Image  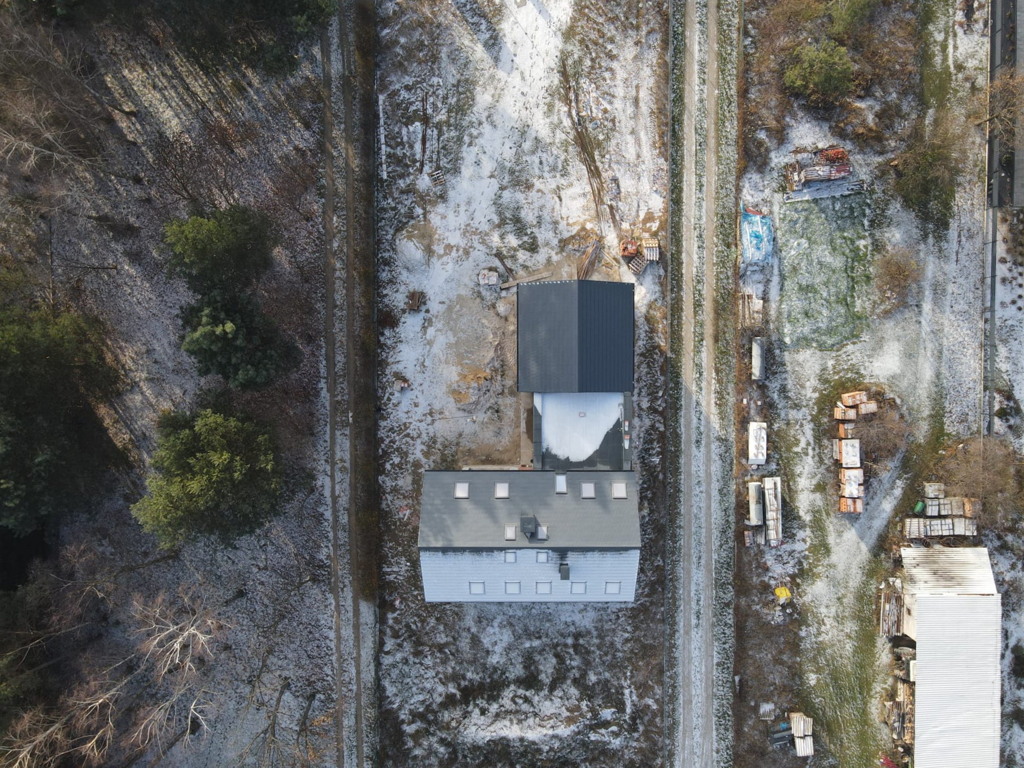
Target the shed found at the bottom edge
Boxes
[914,594,1002,768]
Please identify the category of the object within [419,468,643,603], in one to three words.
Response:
house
